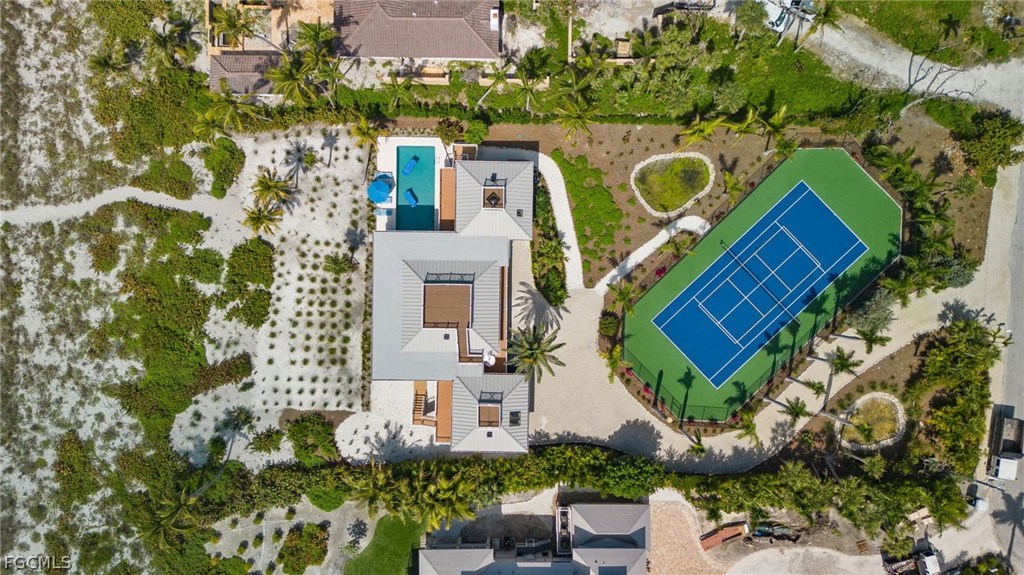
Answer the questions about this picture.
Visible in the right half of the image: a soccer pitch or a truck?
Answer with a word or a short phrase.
truck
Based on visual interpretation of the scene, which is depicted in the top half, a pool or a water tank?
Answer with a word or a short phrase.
pool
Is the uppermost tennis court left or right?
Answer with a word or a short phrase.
right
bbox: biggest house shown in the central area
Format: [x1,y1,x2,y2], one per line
[372,142,533,453]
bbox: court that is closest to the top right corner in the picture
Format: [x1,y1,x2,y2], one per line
[624,148,903,423]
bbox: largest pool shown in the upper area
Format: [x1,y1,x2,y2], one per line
[377,137,455,231]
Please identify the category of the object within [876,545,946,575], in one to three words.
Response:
truck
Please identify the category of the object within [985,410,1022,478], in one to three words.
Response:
truck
